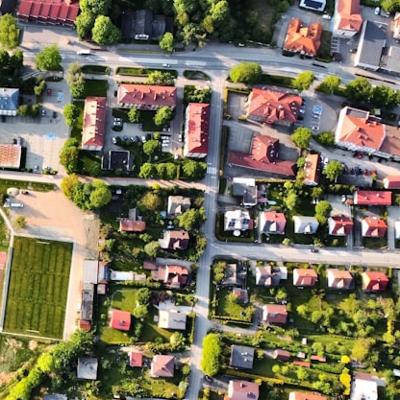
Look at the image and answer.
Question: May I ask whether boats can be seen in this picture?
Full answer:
No, the photo shows no boat.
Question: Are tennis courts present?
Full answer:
No, there appears to be no tennis court in this shot.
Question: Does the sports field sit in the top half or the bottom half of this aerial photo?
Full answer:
It is in the bottom half that the sports field appears.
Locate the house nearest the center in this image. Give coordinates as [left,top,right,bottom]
[165,193,191,215]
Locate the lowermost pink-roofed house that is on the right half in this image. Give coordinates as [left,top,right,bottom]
[232,379,259,400]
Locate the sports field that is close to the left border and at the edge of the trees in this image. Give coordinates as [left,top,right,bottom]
[0,234,74,340]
